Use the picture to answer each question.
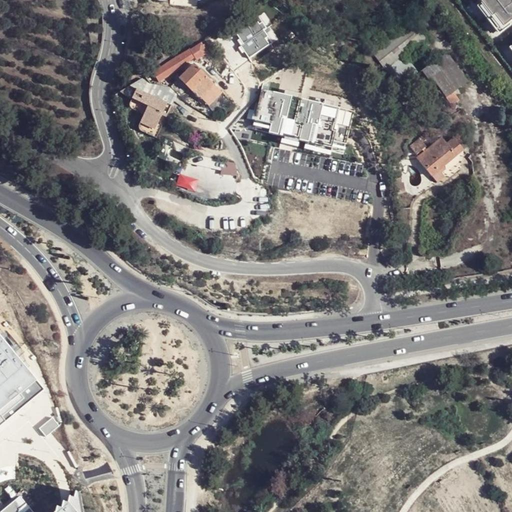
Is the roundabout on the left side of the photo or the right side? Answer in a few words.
left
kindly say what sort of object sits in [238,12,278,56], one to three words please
house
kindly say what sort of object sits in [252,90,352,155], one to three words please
building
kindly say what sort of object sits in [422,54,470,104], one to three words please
barn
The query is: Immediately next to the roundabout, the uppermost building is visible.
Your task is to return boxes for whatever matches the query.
[0,334,42,424]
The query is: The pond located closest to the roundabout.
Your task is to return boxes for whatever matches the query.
[239,418,297,494]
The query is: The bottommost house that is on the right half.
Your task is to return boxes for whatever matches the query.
[410,136,468,182]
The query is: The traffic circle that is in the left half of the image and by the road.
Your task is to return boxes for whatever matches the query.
[66,292,230,452]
